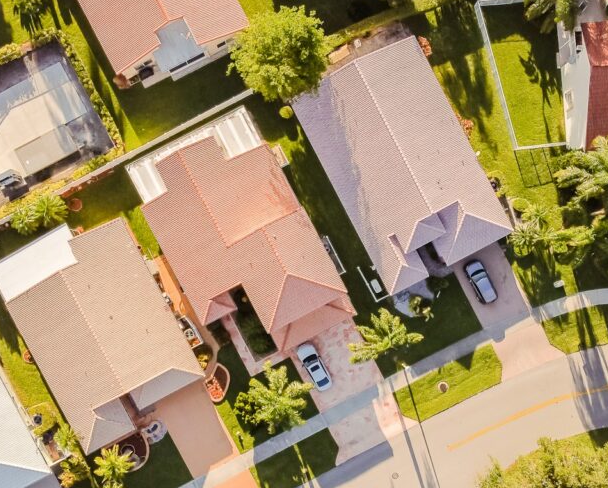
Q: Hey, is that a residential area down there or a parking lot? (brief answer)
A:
residential area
